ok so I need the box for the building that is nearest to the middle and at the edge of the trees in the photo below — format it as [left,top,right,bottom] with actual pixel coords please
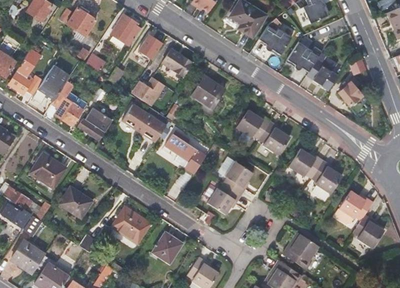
[163,124,208,168]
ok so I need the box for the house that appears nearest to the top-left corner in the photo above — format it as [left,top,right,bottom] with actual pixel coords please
[24,0,56,30]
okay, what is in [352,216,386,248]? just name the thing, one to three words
house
